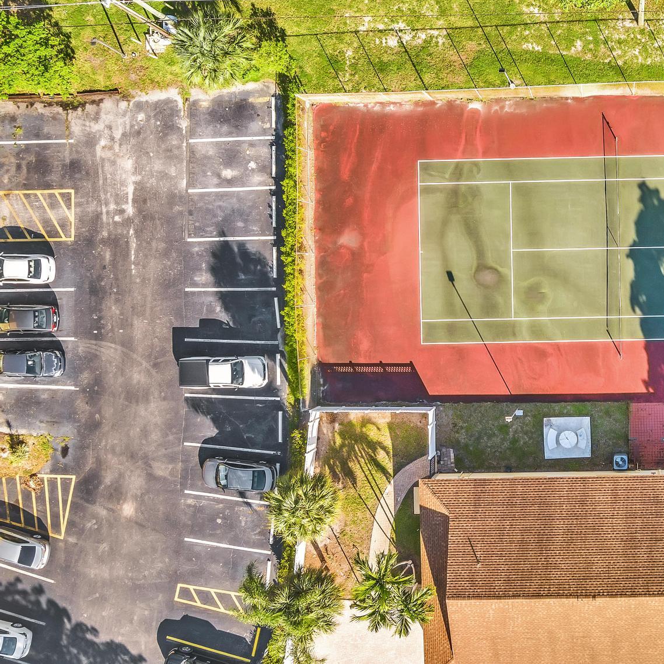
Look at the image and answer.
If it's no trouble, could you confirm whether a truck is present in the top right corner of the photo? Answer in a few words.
No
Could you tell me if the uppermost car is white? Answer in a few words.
Yes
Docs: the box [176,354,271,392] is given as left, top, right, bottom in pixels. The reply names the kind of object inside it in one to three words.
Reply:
truck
